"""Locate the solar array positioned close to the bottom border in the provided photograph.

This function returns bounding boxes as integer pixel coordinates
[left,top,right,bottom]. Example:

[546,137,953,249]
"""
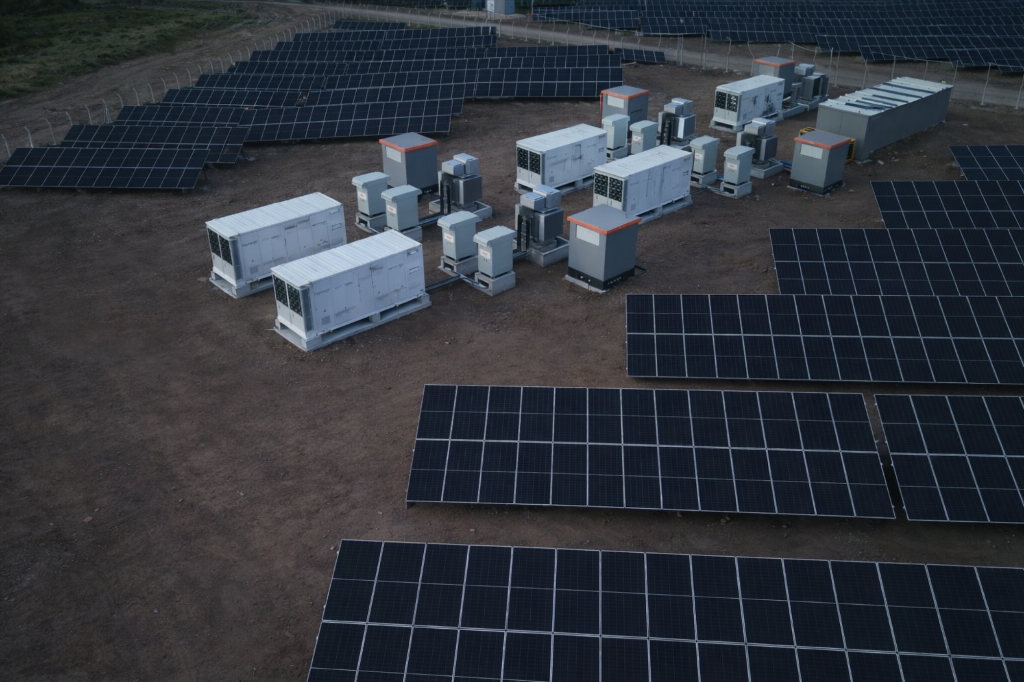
[308,540,1024,682]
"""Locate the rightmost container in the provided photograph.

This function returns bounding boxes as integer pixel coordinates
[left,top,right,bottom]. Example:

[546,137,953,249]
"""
[814,76,955,161]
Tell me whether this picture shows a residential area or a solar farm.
solar farm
